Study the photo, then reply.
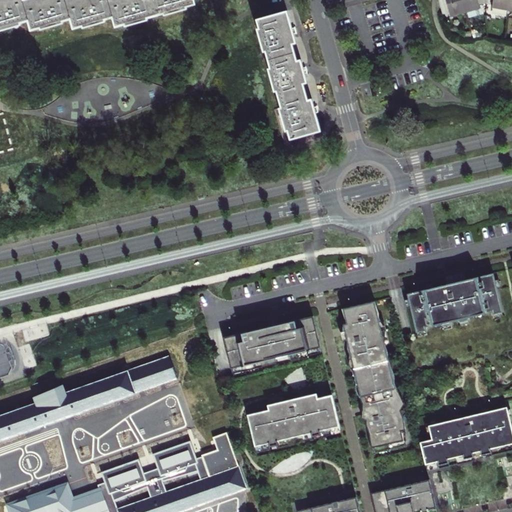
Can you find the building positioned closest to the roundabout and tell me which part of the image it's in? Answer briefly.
top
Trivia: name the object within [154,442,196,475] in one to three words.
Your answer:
building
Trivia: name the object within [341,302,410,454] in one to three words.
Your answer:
building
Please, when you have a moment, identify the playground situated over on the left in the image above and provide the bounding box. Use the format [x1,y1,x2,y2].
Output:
[46,76,158,122]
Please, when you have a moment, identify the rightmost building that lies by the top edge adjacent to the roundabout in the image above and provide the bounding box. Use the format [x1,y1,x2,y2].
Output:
[256,11,321,142]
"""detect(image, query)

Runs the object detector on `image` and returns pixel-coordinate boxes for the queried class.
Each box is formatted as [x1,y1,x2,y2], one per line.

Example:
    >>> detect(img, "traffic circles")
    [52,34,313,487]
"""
[308,150,418,220]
